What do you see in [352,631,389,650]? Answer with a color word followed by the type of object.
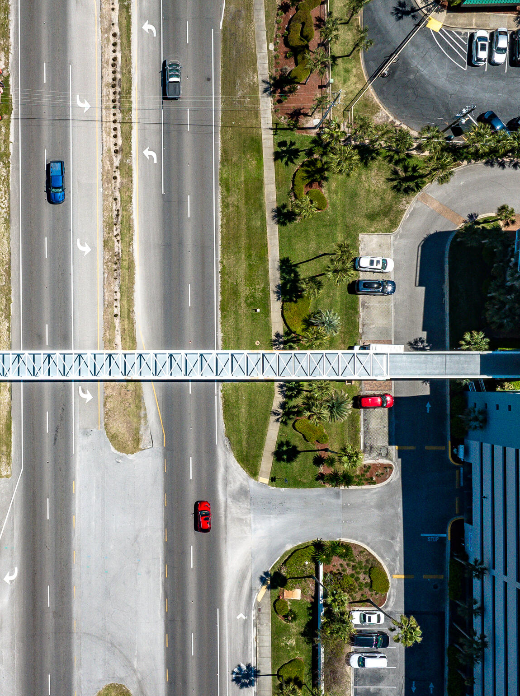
black car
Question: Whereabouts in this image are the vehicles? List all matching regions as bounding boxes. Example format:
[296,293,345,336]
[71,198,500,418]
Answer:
[194,500,212,532]
[349,609,384,627]
[478,109,510,138]
[358,393,393,410]
[355,255,393,274]
[469,30,490,66]
[510,113,520,129]
[490,28,510,66]
[166,60,183,101]
[357,278,395,296]
[47,160,66,204]
[351,651,388,671]
[352,631,389,650]
[350,341,405,351]
[512,29,520,67]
